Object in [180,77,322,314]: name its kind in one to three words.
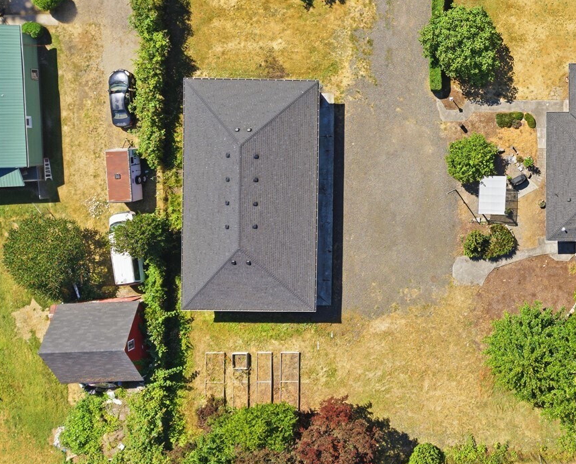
building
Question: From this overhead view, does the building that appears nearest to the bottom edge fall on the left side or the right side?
left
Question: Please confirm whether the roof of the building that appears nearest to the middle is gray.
Yes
